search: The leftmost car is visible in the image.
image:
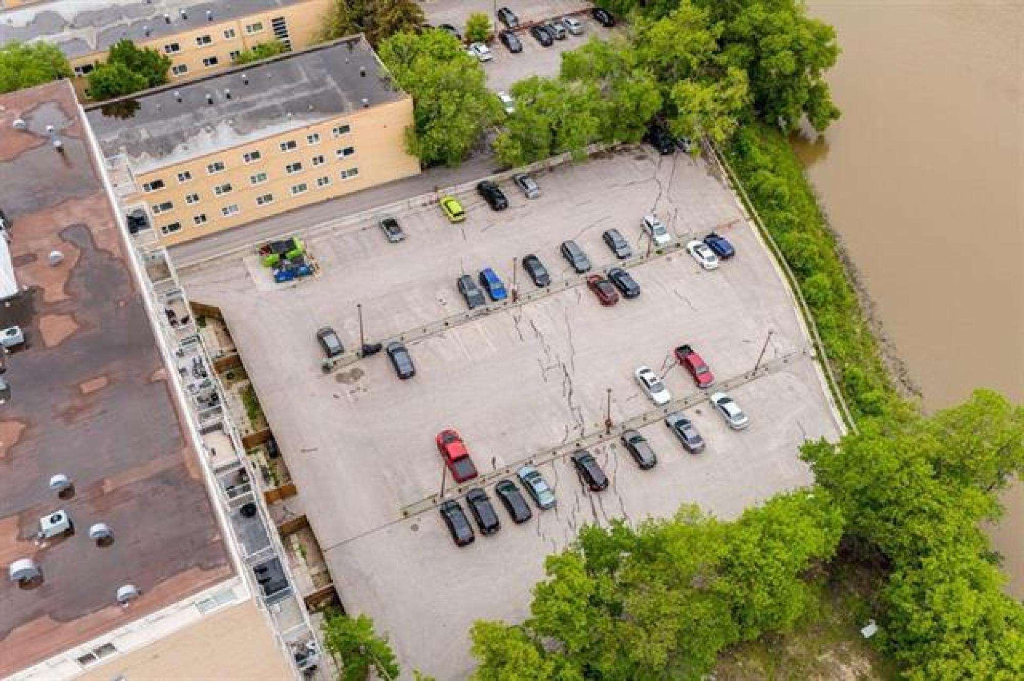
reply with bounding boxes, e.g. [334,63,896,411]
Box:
[317,324,345,359]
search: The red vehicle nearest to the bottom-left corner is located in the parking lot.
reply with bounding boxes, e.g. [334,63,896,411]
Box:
[439,428,477,484]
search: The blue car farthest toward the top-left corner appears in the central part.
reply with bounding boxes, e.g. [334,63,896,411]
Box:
[479,267,506,301]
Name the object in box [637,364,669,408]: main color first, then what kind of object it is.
white car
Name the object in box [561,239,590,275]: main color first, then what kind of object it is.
gray car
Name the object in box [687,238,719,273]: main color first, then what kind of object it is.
white car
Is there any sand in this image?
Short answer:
No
